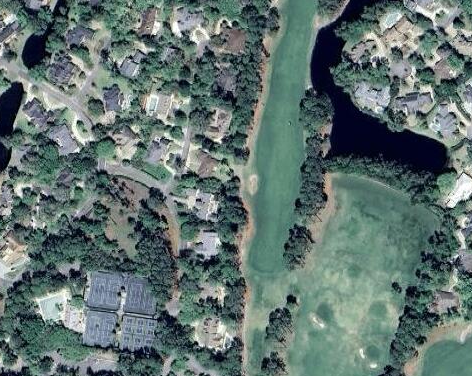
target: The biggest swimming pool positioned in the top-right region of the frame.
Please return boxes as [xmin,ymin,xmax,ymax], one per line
[382,11,403,29]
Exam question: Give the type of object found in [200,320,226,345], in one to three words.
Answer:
house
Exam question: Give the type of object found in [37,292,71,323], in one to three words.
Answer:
swimming pool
